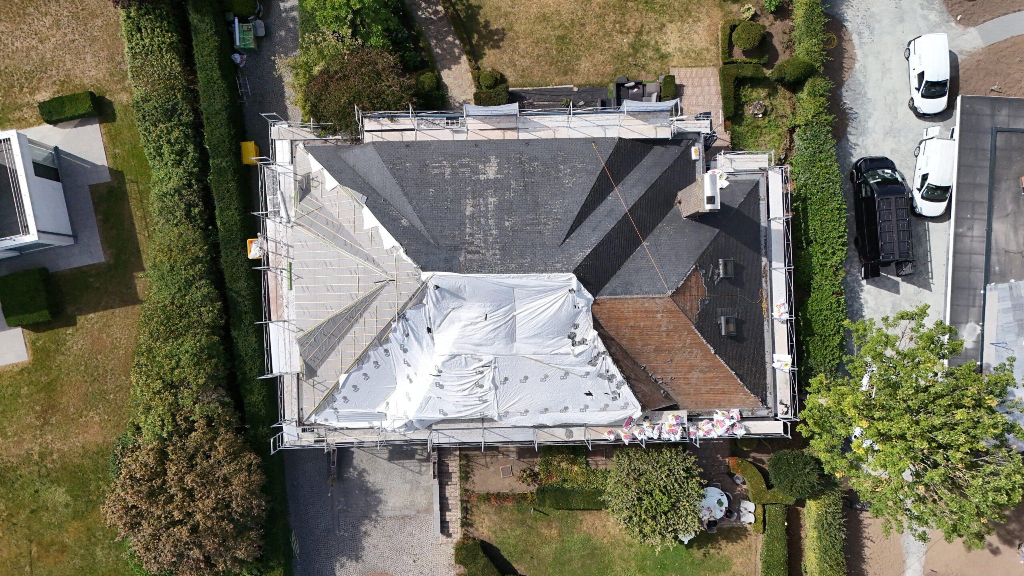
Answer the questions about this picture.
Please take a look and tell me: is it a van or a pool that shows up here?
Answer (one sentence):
Visible in the photo is a van.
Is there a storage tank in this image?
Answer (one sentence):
No, the scene contains no storage tank.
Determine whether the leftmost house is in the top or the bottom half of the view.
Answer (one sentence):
It is in the top half that the leftmost house appears.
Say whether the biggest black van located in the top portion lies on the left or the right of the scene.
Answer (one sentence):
The biggest black van located in the top portion appears in the right half of the scene.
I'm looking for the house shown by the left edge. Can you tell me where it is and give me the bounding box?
[0,129,81,258]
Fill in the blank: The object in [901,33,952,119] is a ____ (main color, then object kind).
white van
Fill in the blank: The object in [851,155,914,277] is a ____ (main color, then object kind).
black van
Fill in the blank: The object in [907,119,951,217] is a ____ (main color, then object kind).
white van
